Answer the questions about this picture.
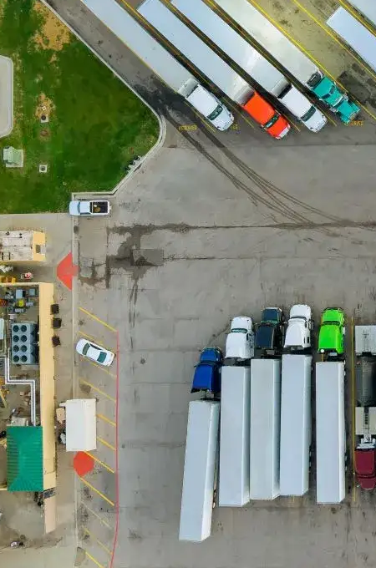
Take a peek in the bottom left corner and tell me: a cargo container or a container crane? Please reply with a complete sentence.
You can see a cargo container in the bottom left corner.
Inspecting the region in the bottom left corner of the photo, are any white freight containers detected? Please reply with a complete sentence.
Yes, the scene does show a white freight container in the bottom left corner of the photo.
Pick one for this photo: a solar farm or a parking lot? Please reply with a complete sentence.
The area seen from above is a parking lot.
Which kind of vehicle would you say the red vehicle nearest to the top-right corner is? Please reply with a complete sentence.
What you see as the red vehicle nearest to the top-right corner is a truck.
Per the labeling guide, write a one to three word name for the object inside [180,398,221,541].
trailer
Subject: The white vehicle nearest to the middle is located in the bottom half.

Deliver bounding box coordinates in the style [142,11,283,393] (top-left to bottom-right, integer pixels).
[226,316,256,365]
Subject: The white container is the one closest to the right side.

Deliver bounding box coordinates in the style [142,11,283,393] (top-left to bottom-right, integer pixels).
[66,397,97,451]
